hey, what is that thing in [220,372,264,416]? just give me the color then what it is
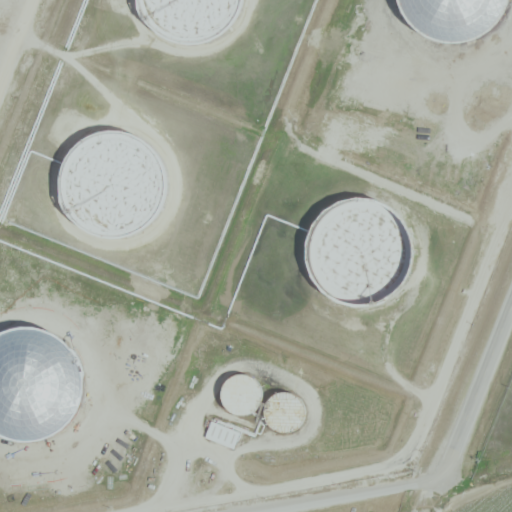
white storage tank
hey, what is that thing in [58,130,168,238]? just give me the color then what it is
white storage tank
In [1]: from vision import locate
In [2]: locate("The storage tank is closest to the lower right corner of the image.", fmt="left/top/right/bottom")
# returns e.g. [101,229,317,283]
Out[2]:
[263,390,308,434]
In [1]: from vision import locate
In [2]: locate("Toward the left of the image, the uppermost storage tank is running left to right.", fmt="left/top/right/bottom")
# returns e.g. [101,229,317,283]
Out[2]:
[136,0,244,46]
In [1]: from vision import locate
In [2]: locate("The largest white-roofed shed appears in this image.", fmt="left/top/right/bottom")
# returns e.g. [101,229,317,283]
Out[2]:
[205,422,241,450]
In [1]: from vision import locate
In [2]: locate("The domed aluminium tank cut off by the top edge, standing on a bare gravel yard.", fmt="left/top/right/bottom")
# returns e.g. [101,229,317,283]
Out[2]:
[396,0,508,46]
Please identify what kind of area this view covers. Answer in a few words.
industrial area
